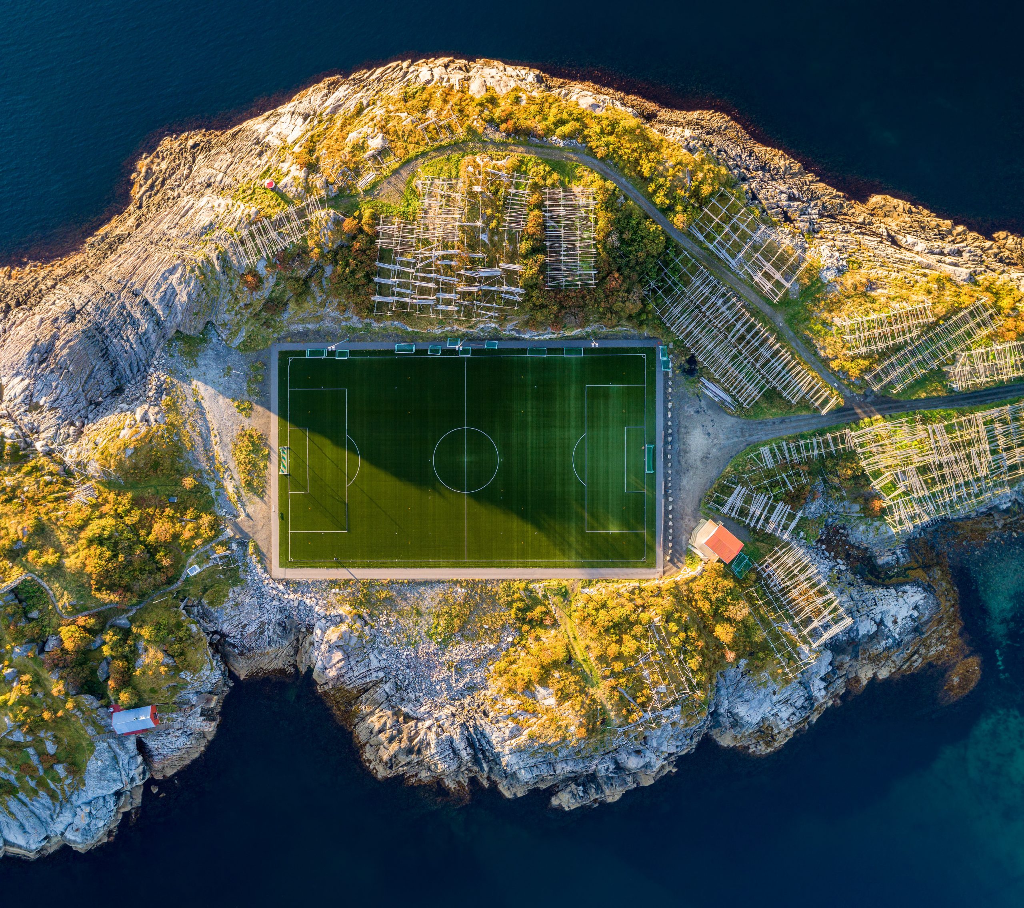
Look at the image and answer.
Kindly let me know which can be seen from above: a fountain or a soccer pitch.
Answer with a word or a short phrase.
soccer pitch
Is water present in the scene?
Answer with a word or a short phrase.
Yes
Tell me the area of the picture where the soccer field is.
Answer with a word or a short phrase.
center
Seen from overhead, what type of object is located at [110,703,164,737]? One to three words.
building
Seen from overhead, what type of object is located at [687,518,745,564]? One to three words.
building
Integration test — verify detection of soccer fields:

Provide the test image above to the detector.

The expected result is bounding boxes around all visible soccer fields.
[278,347,656,568]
